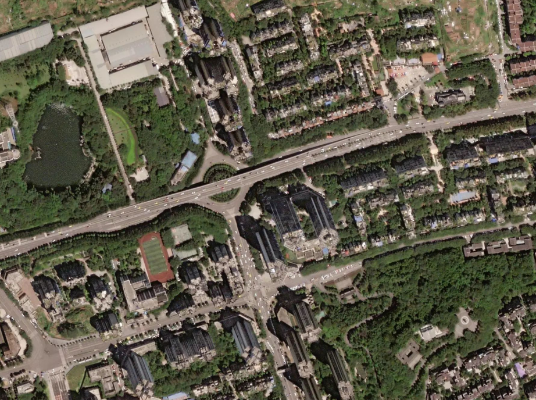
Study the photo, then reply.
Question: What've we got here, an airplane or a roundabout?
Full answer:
The image shows a roundabout.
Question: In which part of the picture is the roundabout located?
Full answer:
The roundabout is in the center part of the image.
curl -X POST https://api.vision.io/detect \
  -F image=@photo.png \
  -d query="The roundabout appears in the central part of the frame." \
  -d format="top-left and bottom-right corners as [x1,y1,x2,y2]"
[191,150,251,215]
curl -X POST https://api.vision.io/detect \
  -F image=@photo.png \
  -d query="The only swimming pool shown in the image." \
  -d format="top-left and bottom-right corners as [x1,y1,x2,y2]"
[450,188,480,205]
